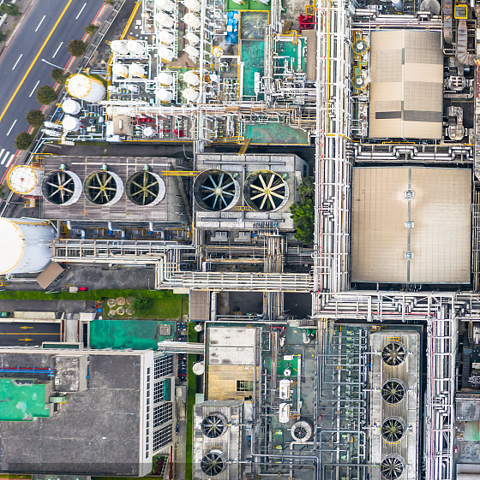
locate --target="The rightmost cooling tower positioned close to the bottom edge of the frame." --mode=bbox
[364,328,423,480]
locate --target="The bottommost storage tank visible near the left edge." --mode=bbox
[0,217,53,274]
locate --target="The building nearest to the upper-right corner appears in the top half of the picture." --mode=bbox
[370,28,445,142]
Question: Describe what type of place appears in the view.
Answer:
industrial area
